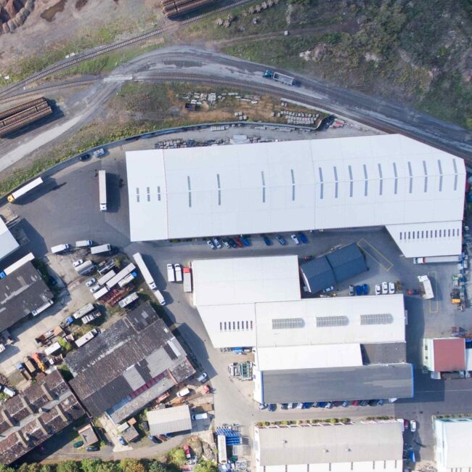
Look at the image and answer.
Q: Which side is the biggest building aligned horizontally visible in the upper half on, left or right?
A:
right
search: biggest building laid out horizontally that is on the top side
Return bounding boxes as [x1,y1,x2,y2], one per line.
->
[162,134,467,240]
